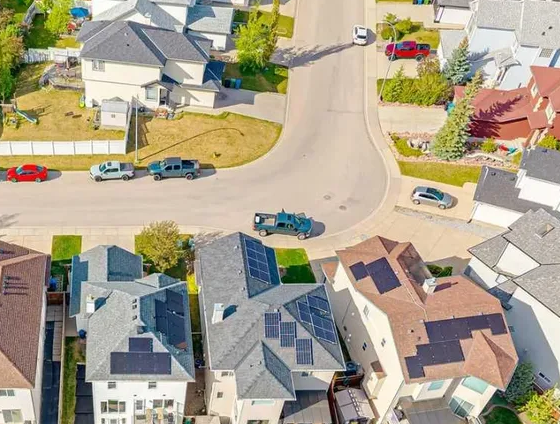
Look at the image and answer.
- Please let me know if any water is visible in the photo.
No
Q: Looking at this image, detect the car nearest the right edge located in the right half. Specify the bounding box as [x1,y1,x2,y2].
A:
[411,184,455,210]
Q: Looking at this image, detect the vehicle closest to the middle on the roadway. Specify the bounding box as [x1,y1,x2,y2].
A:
[252,210,314,238]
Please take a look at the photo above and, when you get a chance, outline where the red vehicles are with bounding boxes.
[5,164,48,183]
[385,38,433,59]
